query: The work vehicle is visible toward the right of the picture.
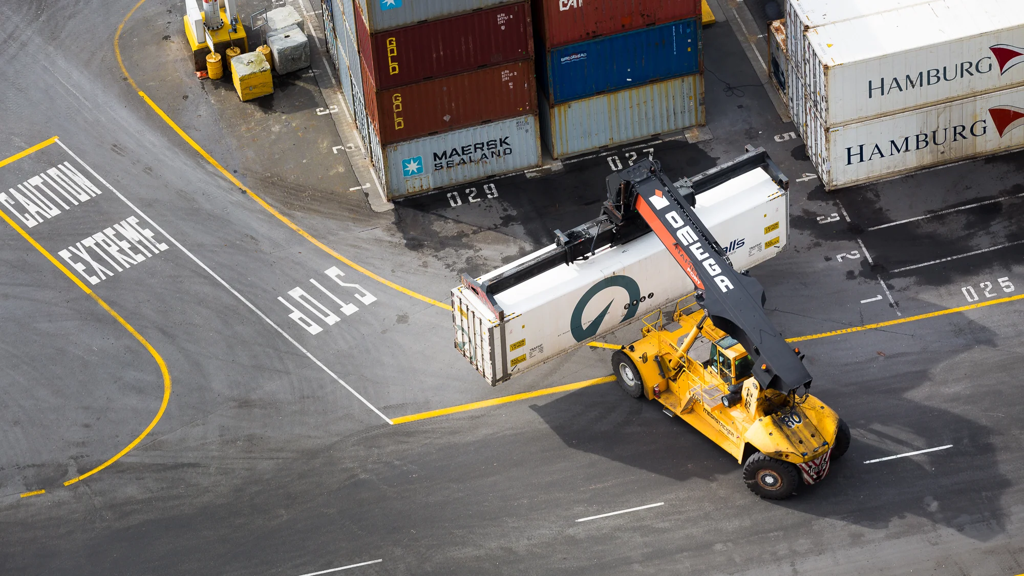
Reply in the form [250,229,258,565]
[462,145,852,500]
